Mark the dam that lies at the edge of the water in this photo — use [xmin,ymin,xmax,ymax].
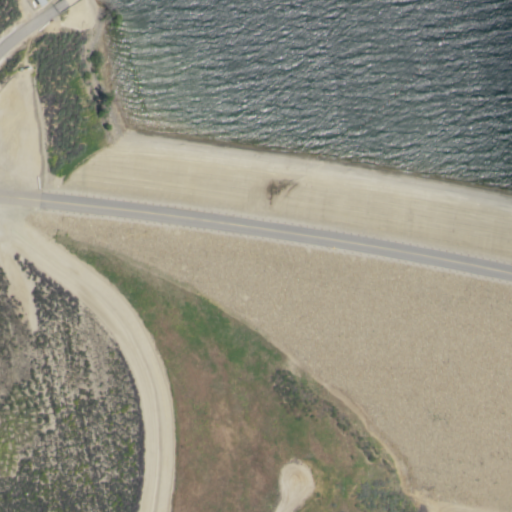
[26,129,512,511]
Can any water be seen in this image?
Yes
